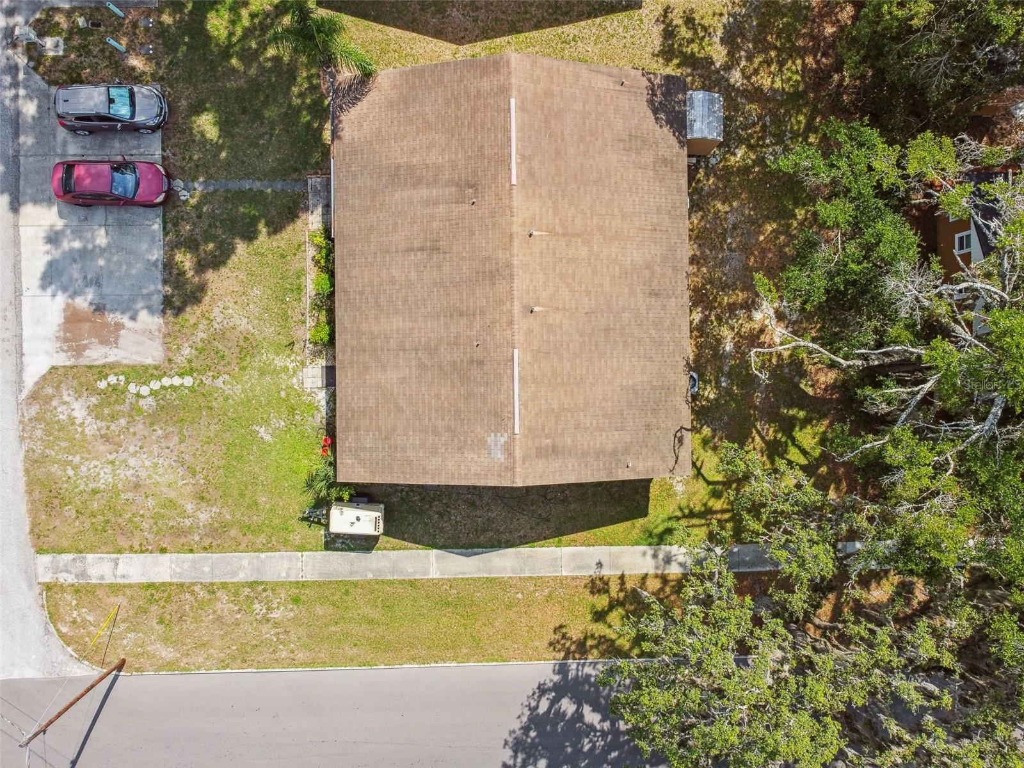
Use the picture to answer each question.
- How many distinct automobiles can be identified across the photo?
2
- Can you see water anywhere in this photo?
No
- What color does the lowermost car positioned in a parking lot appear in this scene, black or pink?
pink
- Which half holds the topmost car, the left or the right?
left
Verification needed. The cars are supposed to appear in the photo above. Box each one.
[53,78,170,134]
[52,153,173,207]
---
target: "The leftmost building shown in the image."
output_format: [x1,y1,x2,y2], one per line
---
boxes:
[330,54,689,486]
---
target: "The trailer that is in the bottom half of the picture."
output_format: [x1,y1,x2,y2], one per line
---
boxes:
[307,500,385,537]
